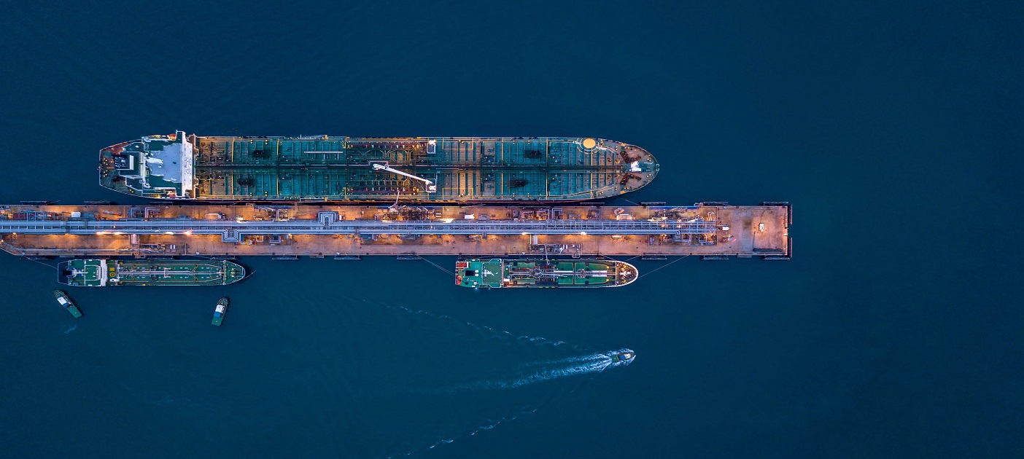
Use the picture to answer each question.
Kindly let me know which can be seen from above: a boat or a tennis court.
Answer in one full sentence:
There is a boat in the scene.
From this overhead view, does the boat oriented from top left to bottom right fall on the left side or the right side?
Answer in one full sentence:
The boat oriented from top left to bottom right appears in the left half of the scene.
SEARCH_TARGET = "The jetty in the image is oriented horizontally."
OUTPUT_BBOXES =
[0,201,792,260]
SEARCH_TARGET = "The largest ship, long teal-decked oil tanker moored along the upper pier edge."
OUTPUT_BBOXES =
[98,130,660,202]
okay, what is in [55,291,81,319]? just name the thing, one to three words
boat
